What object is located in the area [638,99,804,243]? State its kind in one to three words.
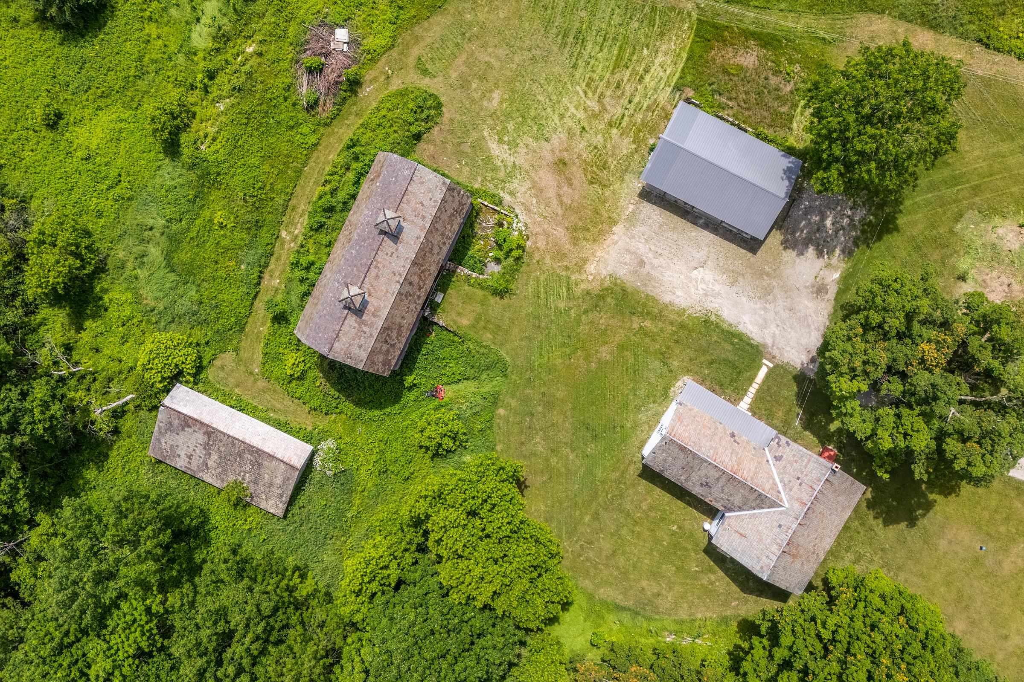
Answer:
shed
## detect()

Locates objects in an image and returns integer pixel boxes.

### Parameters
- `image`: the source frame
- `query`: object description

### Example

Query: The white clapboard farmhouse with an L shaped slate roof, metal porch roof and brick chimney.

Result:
[640,379,864,595]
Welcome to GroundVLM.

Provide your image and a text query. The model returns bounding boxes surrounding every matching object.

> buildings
[640,379,864,595]
[151,384,318,517]
[295,154,473,376]
[638,99,804,243]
